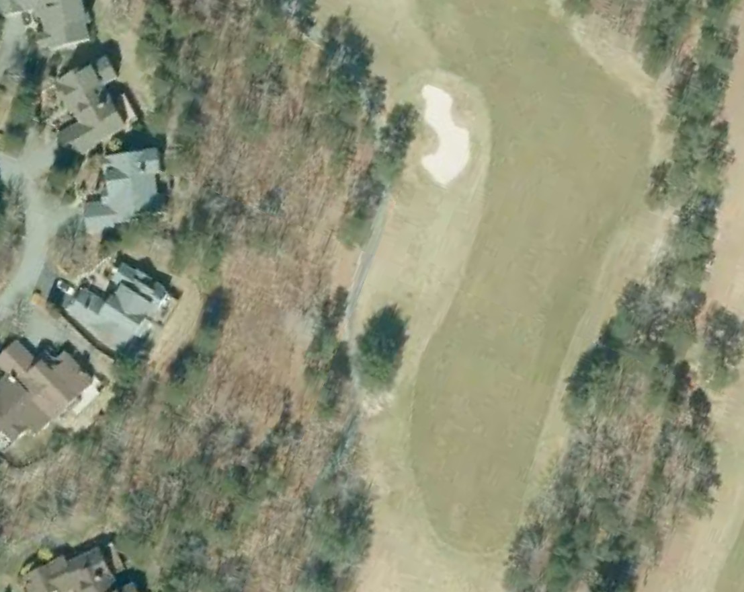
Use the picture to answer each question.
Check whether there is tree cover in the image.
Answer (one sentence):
Yes, the picture does contain tree cover.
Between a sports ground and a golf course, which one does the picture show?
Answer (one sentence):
This image shows a golf course.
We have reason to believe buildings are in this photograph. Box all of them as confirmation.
[42,55,138,157]
[0,334,103,449]
[20,543,124,592]
[0,0,90,49]
[68,262,174,347]
[82,146,165,238]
